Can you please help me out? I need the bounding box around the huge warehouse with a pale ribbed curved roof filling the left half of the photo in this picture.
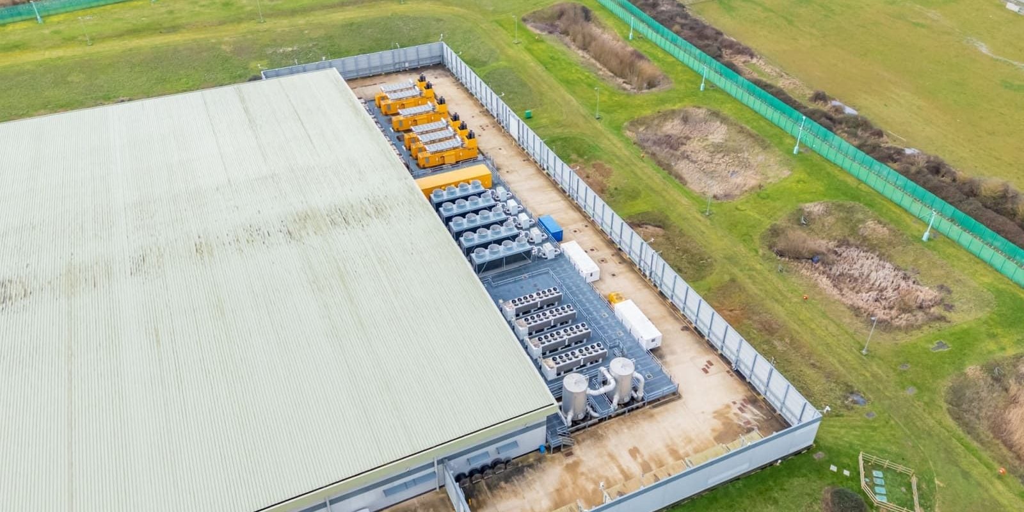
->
[0,66,562,512]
